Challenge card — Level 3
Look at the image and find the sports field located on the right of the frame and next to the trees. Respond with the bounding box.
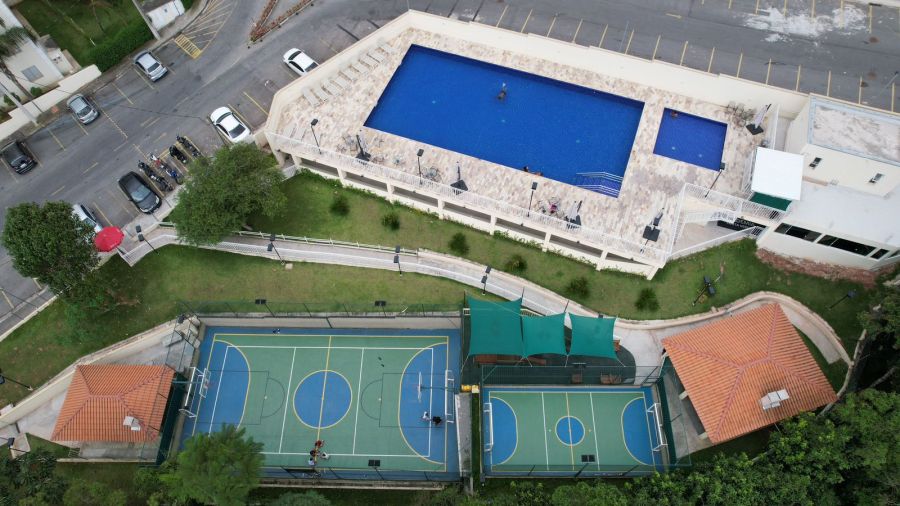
[490,392,655,471]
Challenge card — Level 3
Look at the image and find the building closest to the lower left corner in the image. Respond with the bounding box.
[49,363,182,446]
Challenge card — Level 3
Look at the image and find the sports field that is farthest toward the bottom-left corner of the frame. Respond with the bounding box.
[214,335,447,470]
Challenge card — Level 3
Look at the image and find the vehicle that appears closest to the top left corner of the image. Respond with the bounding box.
[64,94,105,126]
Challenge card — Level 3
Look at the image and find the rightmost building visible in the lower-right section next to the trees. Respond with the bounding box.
[658,302,840,445]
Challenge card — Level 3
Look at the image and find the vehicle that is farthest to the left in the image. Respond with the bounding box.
[0,141,43,178]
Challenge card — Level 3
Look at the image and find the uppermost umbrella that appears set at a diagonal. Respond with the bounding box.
[746,103,771,136]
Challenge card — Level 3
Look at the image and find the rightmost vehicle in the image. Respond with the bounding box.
[280,47,322,77]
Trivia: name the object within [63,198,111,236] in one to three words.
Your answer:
car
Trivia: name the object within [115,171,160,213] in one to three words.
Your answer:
car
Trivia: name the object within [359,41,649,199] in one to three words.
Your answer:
swimming pool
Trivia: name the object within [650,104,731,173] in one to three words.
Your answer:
swimming pool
